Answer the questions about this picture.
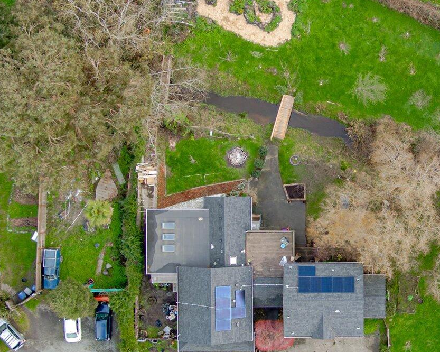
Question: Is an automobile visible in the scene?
Yes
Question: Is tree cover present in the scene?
Yes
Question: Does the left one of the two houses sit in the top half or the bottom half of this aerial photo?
bottom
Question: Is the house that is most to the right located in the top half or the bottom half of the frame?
bottom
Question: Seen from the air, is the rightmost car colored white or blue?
blue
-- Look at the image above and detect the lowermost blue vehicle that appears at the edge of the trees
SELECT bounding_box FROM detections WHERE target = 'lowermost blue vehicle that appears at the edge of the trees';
[92,301,114,343]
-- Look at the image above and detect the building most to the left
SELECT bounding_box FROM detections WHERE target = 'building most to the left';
[146,196,283,352]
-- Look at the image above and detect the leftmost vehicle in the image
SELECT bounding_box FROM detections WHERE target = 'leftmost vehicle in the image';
[0,314,27,352]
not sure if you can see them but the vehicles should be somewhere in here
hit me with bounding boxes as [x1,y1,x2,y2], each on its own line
[92,301,114,343]
[38,248,61,290]
[64,315,83,343]
[0,314,27,352]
